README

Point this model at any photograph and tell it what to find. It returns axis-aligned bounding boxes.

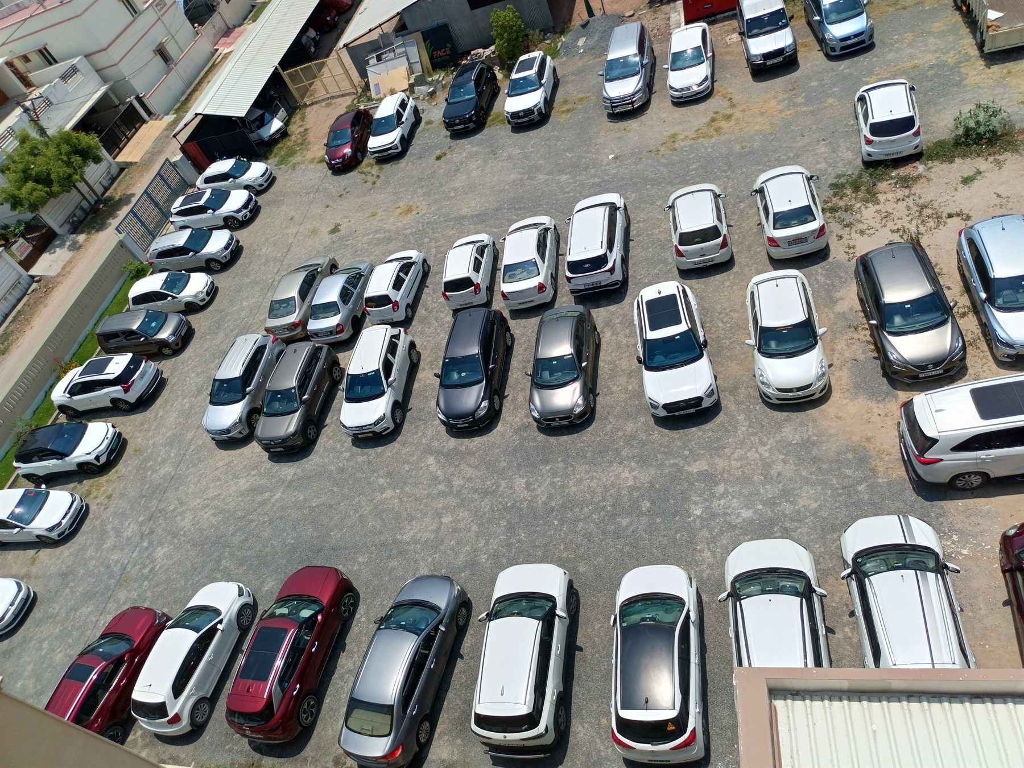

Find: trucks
[679,0,733,29]
[957,0,1024,52]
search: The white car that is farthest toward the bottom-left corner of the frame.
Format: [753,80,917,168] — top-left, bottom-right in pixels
[0,576,36,637]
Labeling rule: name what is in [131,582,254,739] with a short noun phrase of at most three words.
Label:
car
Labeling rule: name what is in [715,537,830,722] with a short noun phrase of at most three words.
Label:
car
